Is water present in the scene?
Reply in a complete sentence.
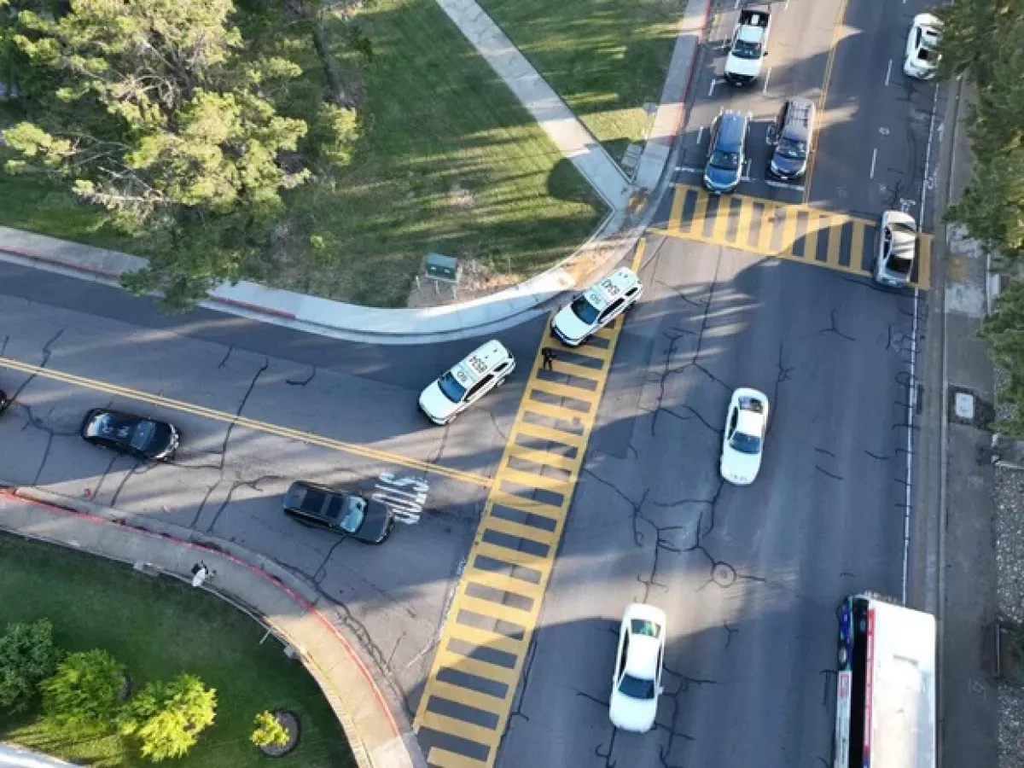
No, the scene doesn't show any water.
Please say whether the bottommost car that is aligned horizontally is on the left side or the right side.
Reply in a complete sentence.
It is on the left.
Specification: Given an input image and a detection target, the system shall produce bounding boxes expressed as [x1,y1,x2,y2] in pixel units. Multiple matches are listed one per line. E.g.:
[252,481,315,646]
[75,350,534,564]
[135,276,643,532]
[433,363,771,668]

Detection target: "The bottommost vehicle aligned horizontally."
[279,480,396,549]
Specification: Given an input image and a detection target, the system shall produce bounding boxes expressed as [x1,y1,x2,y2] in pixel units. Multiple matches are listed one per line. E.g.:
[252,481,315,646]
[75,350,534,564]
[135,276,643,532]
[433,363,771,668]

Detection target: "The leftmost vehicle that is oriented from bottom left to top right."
[419,339,520,426]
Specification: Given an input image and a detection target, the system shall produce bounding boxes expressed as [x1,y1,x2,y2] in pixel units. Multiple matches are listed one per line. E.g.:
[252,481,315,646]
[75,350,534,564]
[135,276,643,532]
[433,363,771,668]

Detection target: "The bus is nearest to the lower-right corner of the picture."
[837,593,935,768]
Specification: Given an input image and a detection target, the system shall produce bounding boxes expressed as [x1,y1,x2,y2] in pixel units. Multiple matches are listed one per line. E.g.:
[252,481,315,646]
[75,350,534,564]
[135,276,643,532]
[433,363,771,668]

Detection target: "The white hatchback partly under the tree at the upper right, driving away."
[902,19,949,76]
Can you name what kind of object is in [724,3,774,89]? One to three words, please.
truck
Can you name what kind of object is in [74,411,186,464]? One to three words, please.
car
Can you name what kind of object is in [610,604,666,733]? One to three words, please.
car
